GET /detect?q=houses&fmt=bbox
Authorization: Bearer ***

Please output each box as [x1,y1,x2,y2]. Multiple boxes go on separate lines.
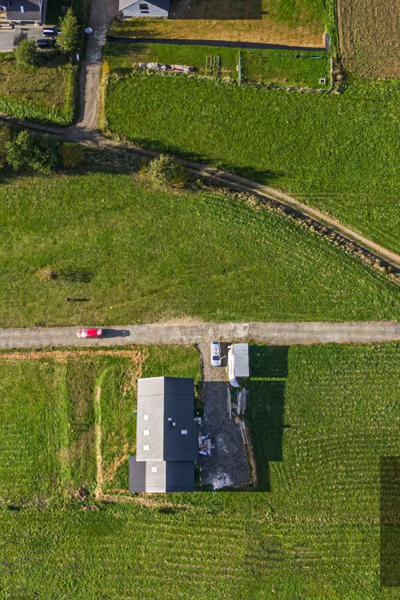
[128,375,199,492]
[0,0,55,38]
[120,0,187,26]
